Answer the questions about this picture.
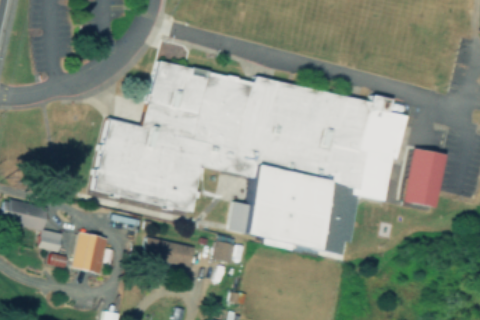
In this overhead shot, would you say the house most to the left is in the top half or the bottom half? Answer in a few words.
bottom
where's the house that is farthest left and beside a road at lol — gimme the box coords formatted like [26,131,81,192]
[4,198,48,233]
